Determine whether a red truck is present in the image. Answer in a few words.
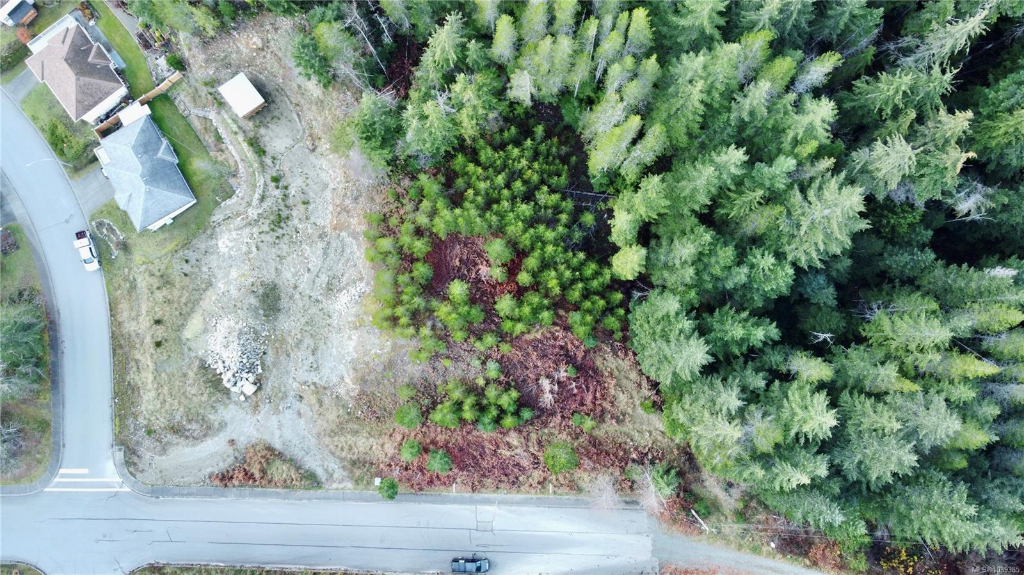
No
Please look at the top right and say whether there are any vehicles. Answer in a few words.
No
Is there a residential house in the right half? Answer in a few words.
No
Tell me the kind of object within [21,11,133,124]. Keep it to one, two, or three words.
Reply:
house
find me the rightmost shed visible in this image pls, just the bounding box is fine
[219,72,271,121]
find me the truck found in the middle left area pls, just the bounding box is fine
[73,229,103,273]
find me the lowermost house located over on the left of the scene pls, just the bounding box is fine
[94,115,200,232]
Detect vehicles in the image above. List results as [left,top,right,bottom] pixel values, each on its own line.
[73,229,103,273]
[450,556,491,575]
